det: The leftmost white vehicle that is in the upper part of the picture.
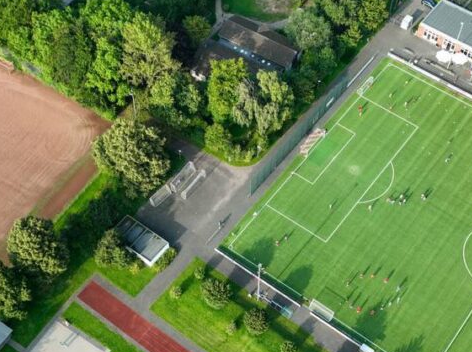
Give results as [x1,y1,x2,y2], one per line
[401,13,415,30]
